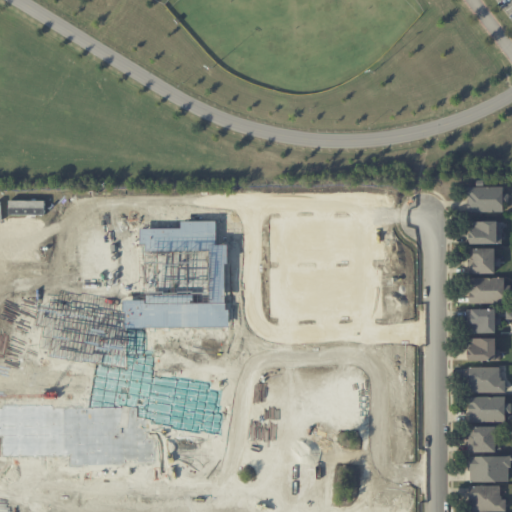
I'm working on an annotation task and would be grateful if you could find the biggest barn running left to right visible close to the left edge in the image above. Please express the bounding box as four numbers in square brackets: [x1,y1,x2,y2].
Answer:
[8,201,44,216]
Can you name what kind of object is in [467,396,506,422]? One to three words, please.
house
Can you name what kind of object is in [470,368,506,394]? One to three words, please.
house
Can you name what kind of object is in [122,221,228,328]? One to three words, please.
building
